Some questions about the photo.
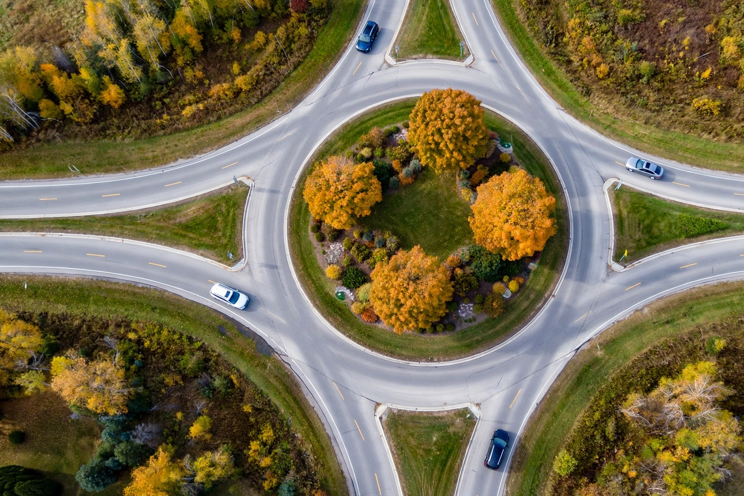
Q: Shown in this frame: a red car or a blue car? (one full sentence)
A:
Of the two, only a blue car appears.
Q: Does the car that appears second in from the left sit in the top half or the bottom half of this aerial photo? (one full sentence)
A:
It is in the top half that the car that appears second in from the left appears.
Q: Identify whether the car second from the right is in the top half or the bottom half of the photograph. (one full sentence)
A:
It is in the bottom half that the car second from the right appears.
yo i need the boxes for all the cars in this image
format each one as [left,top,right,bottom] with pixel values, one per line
[483,429,510,473]
[624,159,665,182]
[208,282,250,310]
[356,22,380,55]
